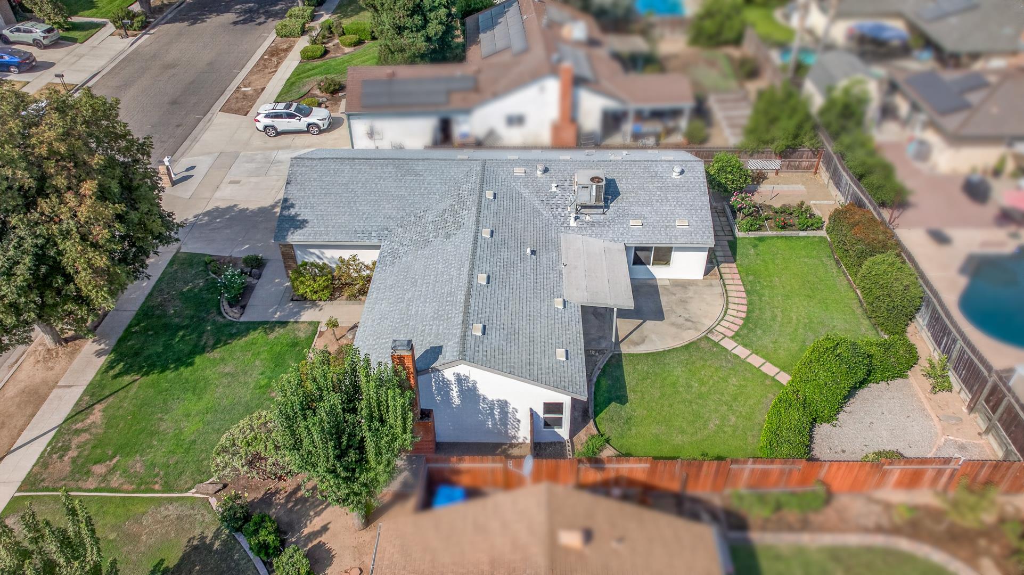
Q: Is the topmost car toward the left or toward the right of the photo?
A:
left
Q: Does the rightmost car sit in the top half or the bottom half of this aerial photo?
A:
top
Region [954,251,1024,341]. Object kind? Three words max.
swimming pool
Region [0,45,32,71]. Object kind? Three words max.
car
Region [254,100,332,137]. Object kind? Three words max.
car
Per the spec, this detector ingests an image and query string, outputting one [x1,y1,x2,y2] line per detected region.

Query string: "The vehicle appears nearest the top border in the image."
[0,17,60,45]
